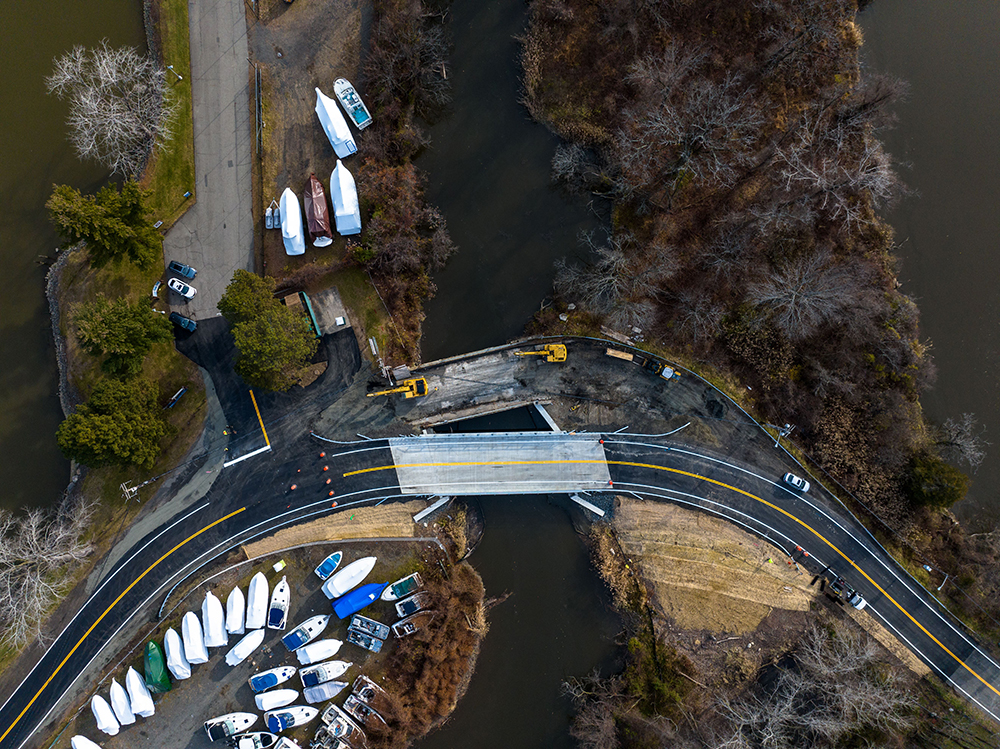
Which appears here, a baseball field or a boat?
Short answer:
boat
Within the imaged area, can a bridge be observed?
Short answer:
Yes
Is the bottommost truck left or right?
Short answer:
right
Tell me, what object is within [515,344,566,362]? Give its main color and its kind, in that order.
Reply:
yellow work vehicle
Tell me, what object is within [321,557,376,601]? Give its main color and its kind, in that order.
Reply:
white boat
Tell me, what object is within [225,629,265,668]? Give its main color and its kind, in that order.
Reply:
white boat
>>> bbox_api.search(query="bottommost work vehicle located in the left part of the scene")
[369,379,429,398]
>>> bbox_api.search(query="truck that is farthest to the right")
[826,576,867,611]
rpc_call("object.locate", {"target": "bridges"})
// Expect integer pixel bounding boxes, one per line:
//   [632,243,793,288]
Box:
[389,401,613,521]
